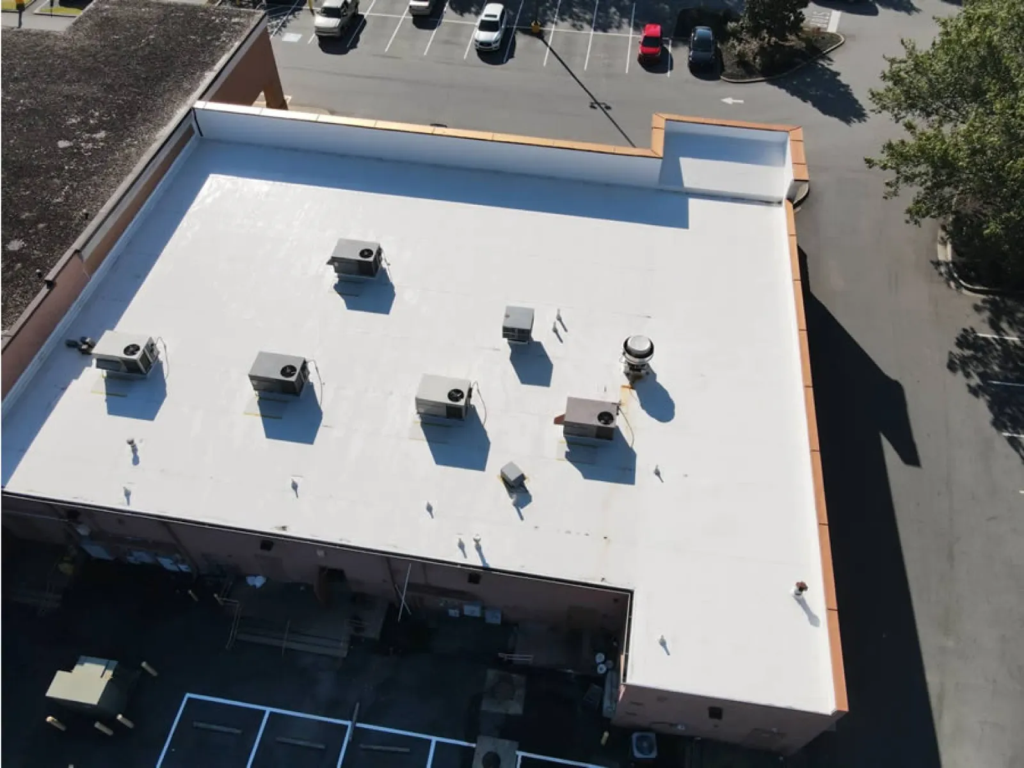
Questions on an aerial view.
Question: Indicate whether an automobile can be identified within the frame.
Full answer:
Yes, an automobile can be made out from above.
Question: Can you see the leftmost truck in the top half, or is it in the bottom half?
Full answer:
The leftmost truck is in the top half of the image.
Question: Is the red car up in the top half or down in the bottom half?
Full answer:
The top half of the photo is where the red car is.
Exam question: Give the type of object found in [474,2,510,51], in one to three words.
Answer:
car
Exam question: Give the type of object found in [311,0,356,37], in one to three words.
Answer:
truck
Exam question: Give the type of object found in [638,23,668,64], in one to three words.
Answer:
car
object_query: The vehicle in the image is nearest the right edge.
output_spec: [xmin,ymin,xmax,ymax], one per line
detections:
[689,28,720,69]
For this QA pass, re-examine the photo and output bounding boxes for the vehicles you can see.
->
[638,23,668,64]
[410,0,438,14]
[474,2,510,51]
[311,0,356,37]
[689,28,720,69]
